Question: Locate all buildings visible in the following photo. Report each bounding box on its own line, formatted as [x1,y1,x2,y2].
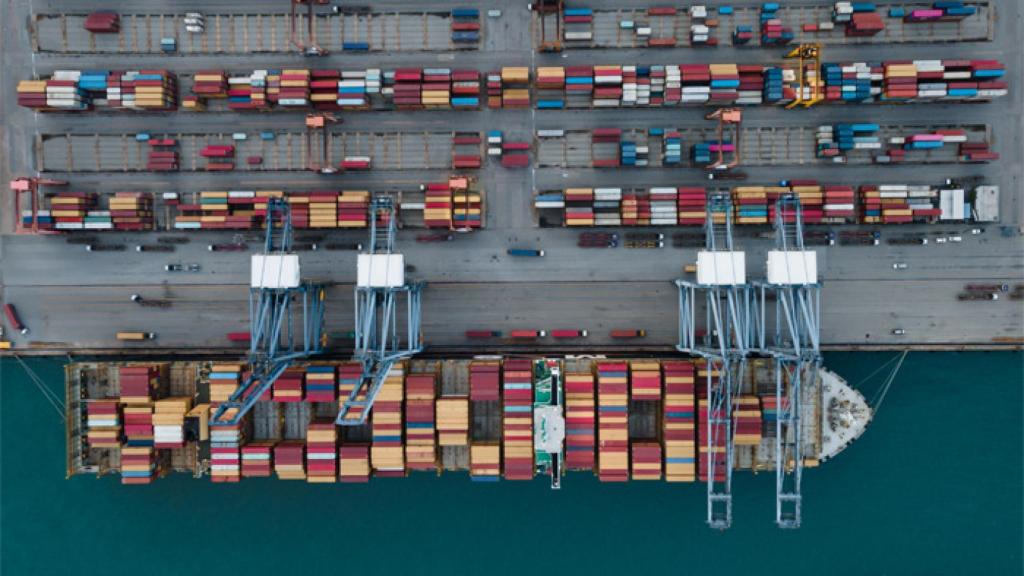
[969,185,1000,222]
[931,189,963,220]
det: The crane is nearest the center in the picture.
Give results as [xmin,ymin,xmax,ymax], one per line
[448,180,478,233]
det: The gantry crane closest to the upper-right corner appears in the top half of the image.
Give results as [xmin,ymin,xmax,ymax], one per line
[777,44,822,109]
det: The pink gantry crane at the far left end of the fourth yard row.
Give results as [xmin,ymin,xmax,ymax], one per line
[11,182,71,233]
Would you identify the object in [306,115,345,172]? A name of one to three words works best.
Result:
container crane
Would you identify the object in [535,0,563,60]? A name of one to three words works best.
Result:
container crane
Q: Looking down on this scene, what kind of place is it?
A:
port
